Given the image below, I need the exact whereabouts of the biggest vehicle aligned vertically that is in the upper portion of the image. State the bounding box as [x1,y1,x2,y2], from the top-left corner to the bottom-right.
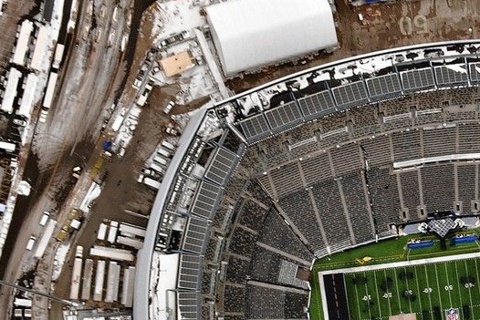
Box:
[41,71,60,117]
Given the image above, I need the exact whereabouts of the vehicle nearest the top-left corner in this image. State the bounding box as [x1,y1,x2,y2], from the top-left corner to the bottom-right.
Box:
[52,43,65,68]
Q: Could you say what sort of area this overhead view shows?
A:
sports ground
